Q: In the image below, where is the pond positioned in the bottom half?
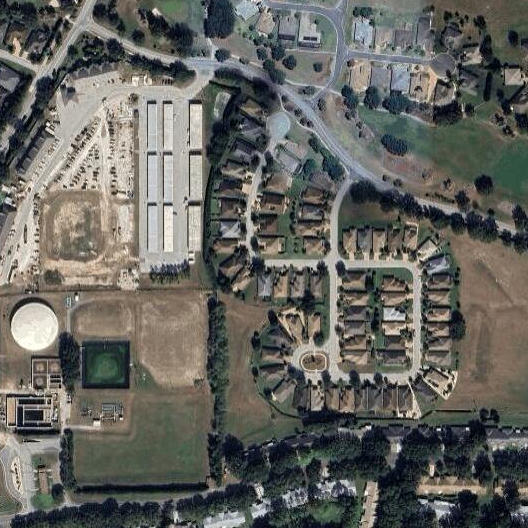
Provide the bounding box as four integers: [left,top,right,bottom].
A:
[83,340,131,388]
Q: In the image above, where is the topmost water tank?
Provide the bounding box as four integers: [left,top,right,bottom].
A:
[10,303,59,351]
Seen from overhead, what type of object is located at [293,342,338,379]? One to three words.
roundabout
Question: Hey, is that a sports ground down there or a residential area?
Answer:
residential area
